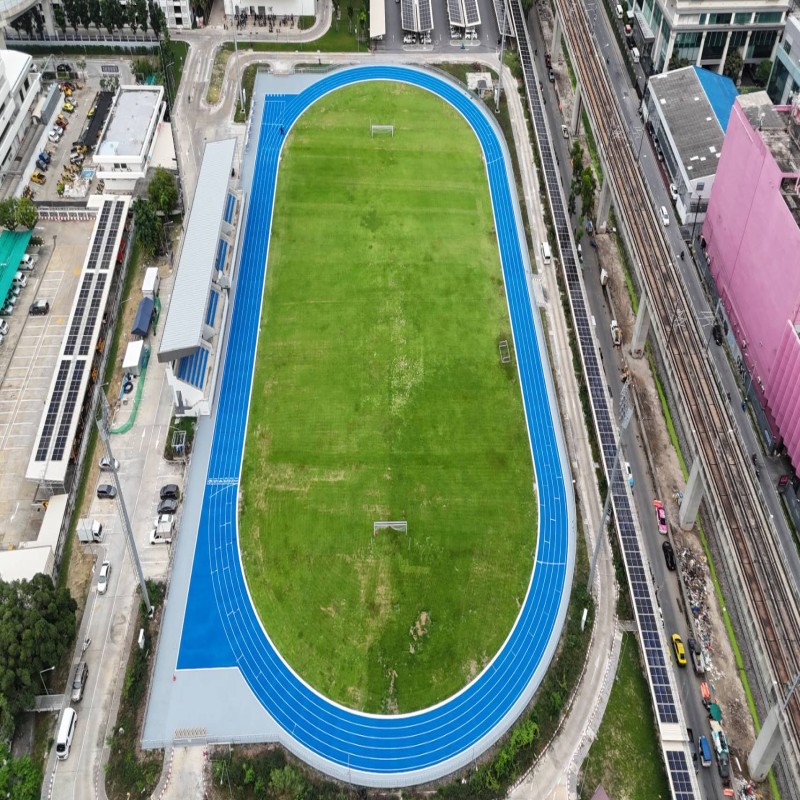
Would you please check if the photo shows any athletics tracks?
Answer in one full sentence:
Yes, an athletics track appears in the view.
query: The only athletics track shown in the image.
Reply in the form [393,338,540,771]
[142,61,579,791]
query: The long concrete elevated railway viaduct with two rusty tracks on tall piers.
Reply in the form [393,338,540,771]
[552,0,800,800]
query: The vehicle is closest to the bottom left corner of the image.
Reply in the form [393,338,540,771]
[53,701,78,759]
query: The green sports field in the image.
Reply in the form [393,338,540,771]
[239,80,538,713]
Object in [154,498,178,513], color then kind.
gray car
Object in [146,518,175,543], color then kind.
white truck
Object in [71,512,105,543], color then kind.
white truck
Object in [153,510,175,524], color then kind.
white car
